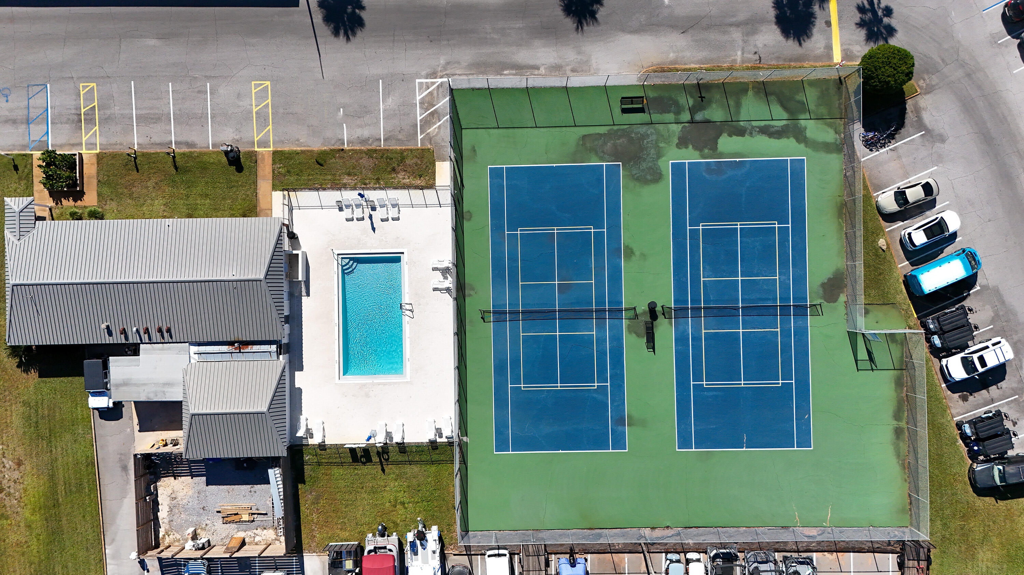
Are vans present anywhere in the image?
Yes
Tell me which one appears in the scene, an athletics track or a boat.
boat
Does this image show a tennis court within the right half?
Yes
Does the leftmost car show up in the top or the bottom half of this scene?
bottom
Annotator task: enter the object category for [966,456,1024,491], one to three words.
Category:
car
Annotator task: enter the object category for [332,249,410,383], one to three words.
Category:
swimming pool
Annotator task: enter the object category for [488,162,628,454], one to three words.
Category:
tennis court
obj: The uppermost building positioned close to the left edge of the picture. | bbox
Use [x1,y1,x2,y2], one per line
[0,196,290,345]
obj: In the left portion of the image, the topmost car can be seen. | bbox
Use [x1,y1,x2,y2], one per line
[82,357,116,410]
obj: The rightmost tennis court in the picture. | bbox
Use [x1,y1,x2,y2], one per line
[670,156,813,452]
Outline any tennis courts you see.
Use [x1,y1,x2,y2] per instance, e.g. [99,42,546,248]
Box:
[670,156,813,452]
[488,162,628,454]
